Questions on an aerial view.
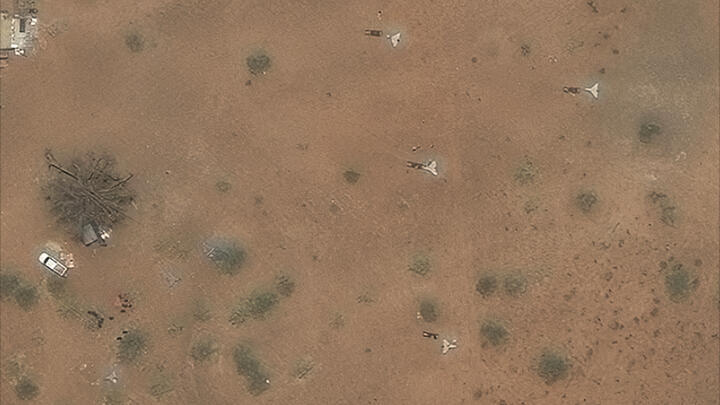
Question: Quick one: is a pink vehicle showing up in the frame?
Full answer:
No, this view has no pink vehicle in it.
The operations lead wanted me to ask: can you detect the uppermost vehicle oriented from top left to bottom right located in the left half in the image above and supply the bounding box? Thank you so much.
[38,252,68,277]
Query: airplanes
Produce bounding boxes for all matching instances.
[391,32,401,47]
[423,161,437,175]
[442,340,456,353]
[105,371,117,380]
[585,84,599,98]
